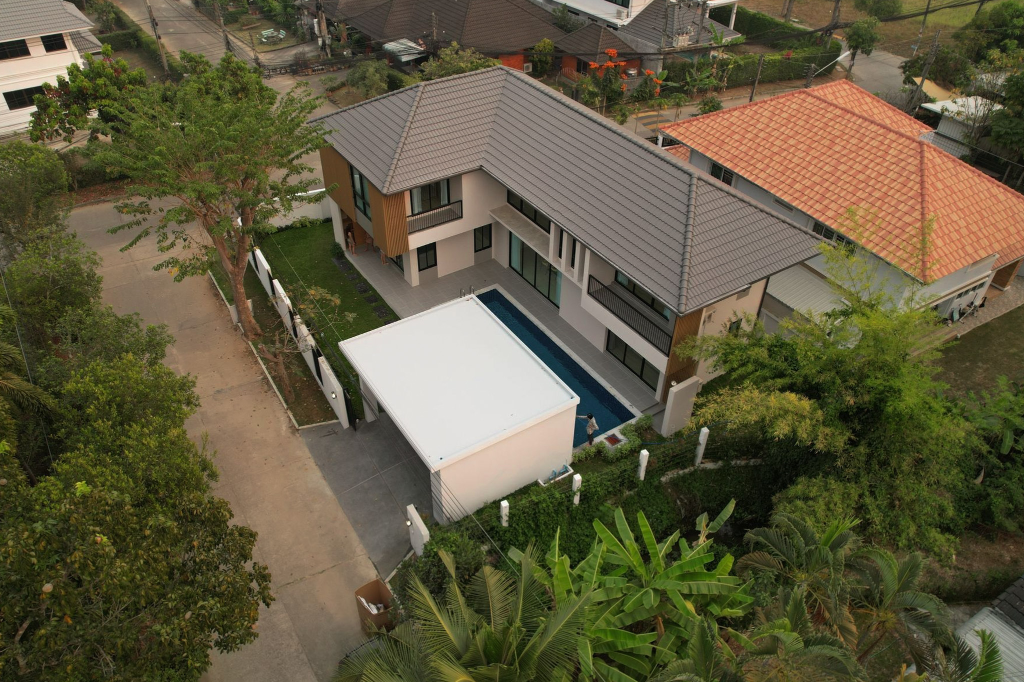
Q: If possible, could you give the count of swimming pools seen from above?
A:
one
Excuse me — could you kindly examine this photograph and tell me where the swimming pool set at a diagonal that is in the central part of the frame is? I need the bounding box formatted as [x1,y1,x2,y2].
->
[419,283,648,456]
